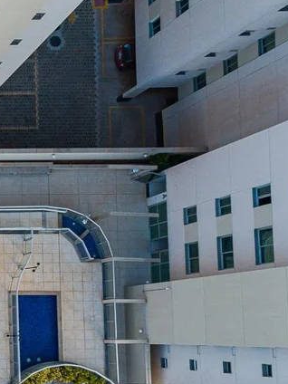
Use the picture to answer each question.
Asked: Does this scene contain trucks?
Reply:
No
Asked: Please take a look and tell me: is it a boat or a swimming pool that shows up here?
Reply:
swimming pool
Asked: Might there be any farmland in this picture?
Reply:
No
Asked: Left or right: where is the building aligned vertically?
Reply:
right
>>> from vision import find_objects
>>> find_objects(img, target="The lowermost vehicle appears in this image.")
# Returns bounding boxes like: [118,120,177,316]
[114,45,135,74]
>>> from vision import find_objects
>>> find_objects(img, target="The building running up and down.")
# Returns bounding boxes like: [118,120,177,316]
[126,0,288,384]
